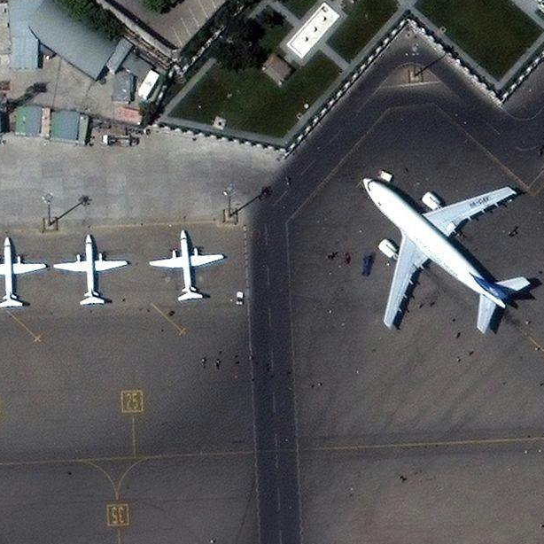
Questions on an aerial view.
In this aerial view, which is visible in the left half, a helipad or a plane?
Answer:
plane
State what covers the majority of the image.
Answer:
paved ground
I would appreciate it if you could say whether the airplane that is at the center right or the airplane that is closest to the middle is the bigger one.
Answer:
the airplane that is at the center right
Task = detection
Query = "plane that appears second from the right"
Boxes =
[150,230,223,301]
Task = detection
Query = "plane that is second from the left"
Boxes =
[54,234,128,306]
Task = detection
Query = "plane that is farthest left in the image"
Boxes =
[0,237,45,309]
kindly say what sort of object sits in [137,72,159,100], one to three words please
truck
